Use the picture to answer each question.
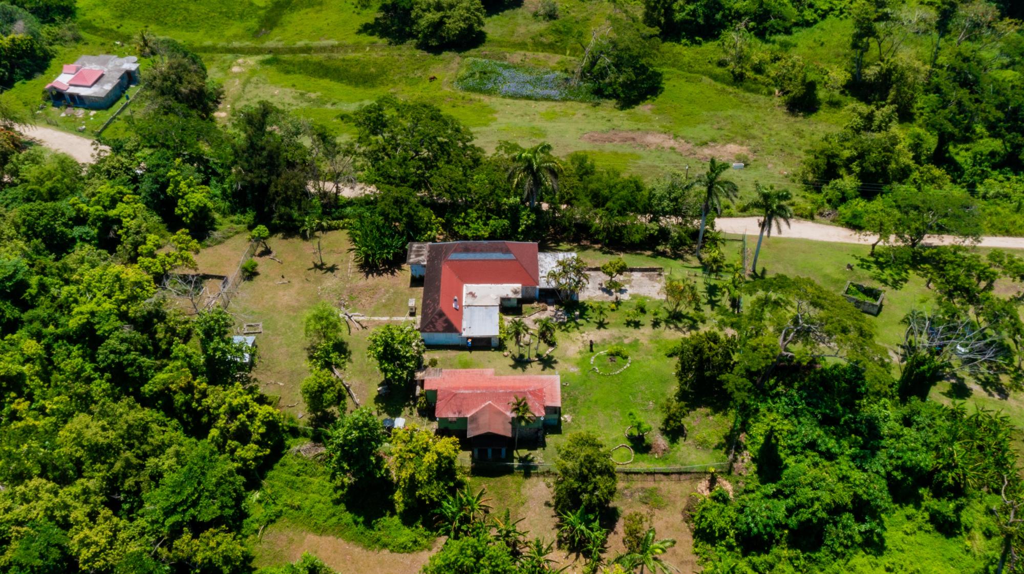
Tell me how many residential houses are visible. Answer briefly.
three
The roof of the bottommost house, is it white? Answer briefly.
No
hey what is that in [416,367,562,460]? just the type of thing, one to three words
house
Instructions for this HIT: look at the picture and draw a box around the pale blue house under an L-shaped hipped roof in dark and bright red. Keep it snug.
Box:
[407,240,577,353]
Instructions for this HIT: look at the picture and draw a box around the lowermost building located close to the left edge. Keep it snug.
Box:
[45,55,143,113]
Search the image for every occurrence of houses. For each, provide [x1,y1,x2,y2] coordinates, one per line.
[407,240,577,353]
[416,367,562,460]
[45,55,143,113]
